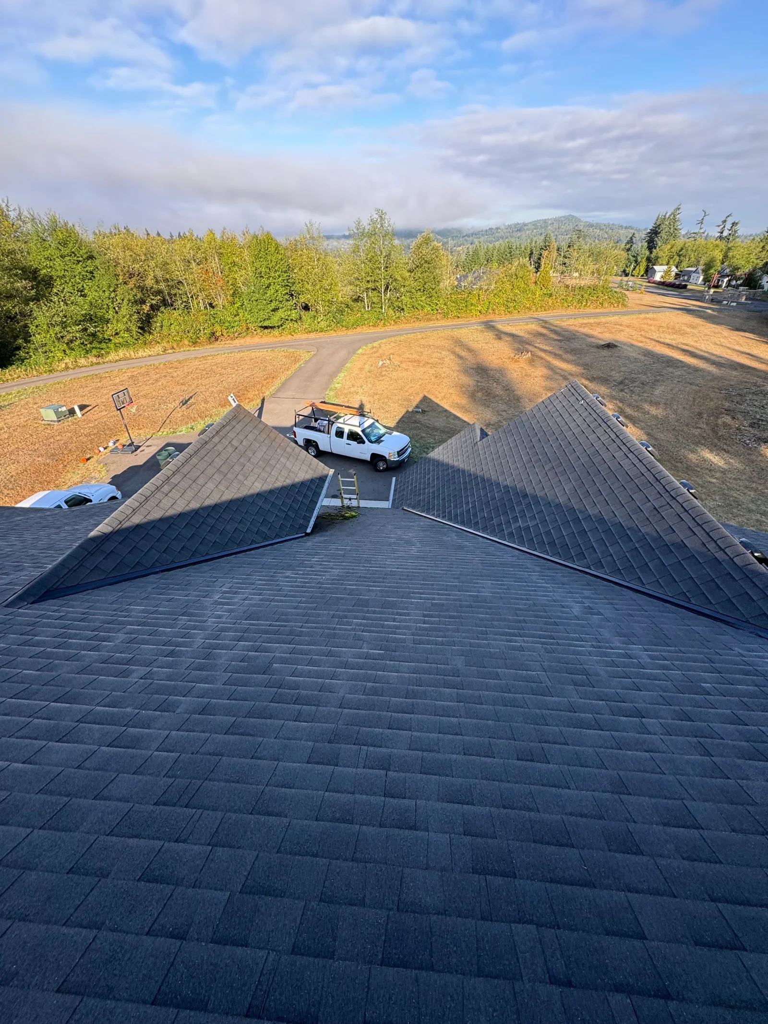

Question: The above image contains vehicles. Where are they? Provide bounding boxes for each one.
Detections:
[15,483,129,508]
[284,405,416,472]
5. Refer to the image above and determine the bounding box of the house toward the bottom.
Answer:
[0,380,768,1024]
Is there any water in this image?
No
